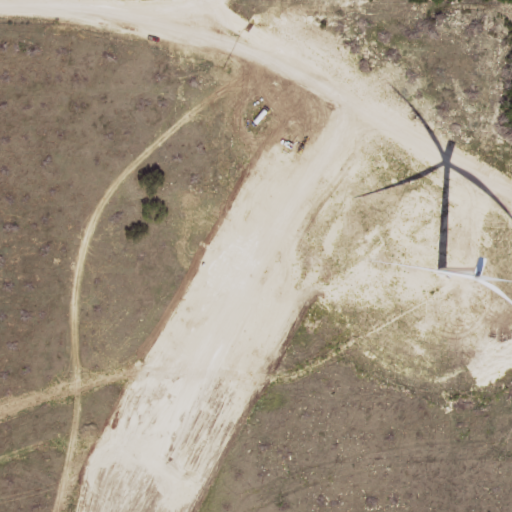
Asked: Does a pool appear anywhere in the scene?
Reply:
No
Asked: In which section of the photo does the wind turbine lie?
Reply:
right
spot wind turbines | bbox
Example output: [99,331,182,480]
[363,256,512,307]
